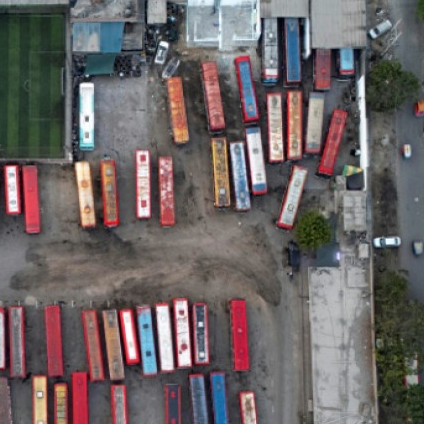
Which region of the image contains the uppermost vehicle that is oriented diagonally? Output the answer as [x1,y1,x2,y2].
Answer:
[366,19,392,41]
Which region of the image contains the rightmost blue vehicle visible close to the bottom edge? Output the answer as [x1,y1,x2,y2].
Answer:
[208,372,228,424]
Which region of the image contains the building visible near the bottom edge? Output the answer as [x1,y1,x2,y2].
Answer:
[303,267,377,424]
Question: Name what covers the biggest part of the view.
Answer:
paved ground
